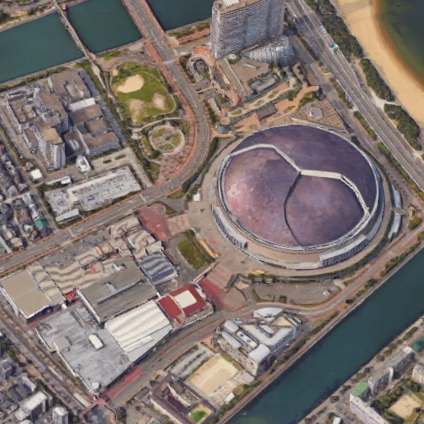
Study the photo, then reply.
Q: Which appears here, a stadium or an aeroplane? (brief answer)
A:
stadium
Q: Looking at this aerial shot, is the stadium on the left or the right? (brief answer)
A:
right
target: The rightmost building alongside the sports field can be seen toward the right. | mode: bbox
[214,308,297,375]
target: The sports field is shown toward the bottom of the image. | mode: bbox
[190,358,238,393]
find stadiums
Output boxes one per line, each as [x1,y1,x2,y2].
[206,125,390,277]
